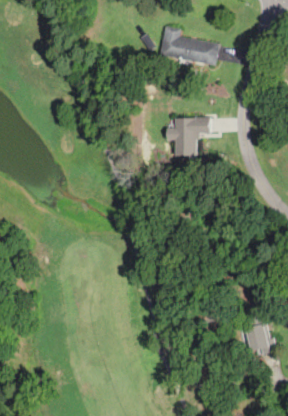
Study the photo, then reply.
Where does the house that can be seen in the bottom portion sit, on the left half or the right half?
right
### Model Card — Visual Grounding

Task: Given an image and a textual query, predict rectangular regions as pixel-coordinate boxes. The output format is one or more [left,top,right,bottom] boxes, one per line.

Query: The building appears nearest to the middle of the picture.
[166,116,212,155]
